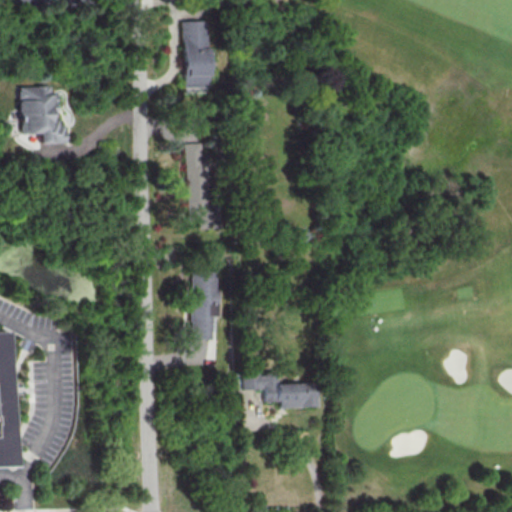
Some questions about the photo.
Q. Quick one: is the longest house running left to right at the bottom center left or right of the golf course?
to the left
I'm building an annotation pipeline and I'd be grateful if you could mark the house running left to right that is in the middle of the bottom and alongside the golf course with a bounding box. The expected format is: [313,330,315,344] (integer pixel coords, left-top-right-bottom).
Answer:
[242,375,320,409]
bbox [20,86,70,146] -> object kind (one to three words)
house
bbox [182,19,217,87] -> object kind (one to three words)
house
